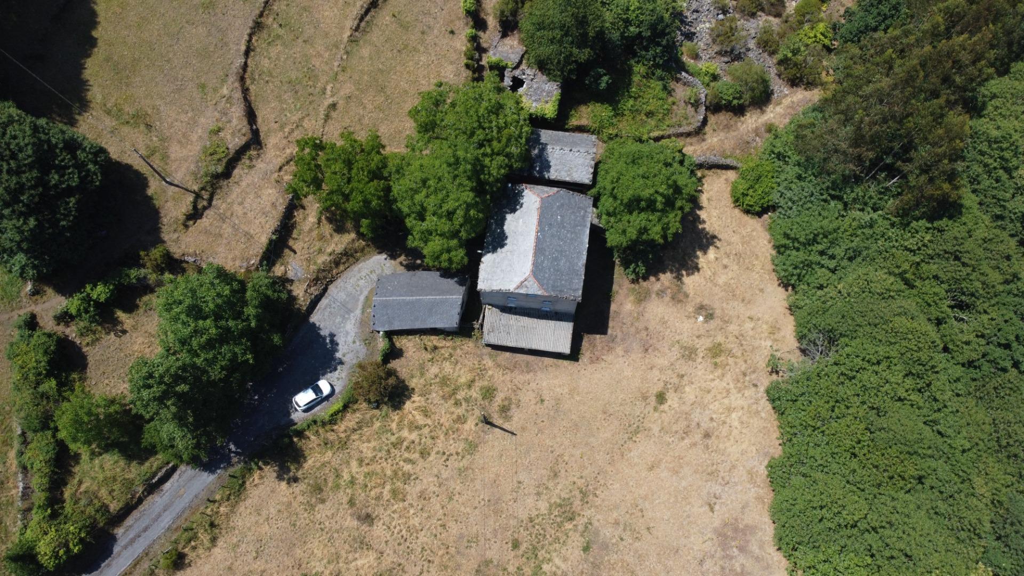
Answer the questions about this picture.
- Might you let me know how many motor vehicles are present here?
one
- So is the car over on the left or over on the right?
left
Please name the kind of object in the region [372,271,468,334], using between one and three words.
barn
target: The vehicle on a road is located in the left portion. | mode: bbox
[291,380,331,411]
